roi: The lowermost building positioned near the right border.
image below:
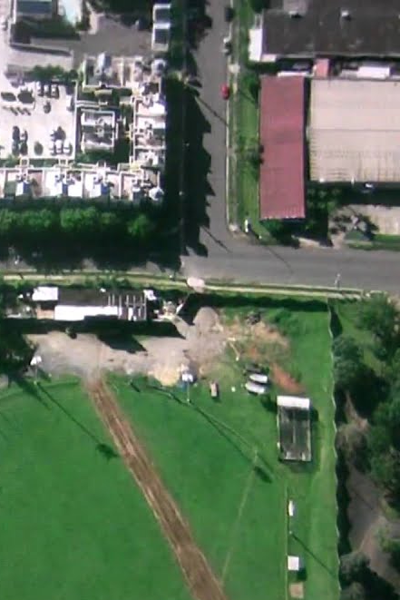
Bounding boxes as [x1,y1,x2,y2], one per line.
[307,79,400,188]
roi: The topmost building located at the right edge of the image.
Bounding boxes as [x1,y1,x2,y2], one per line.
[261,0,400,64]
